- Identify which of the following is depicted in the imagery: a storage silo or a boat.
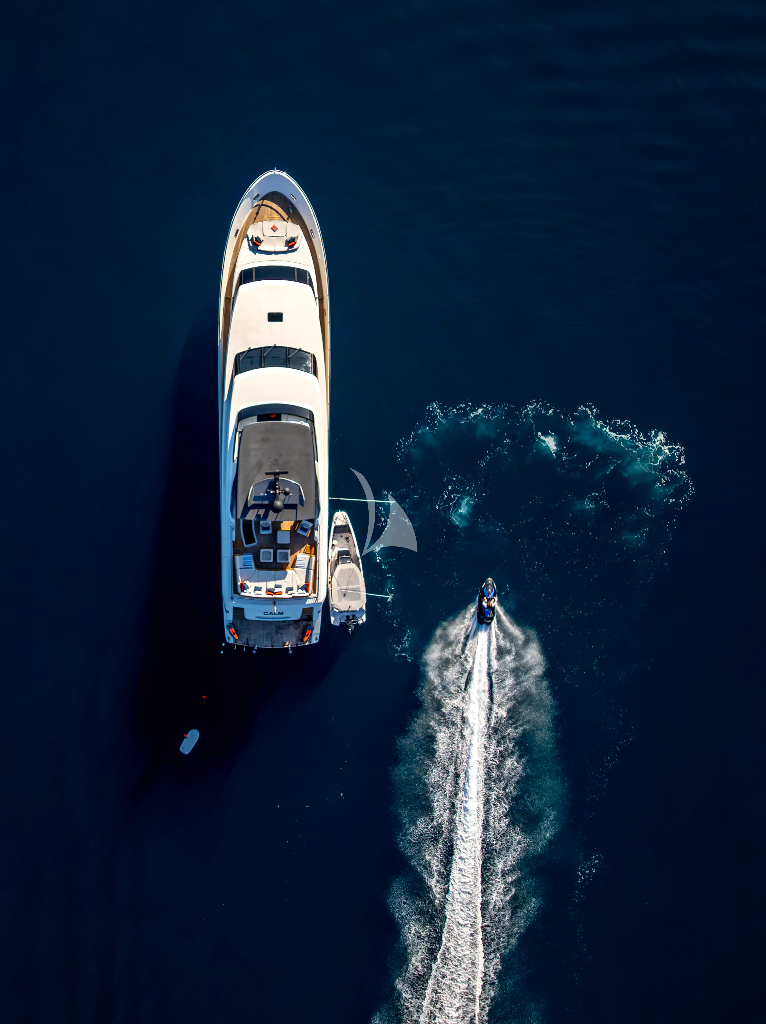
boat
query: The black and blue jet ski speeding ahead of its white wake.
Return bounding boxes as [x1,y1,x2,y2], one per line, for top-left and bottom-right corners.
[477,577,496,625]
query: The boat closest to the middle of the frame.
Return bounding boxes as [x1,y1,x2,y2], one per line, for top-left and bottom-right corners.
[330,511,366,636]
